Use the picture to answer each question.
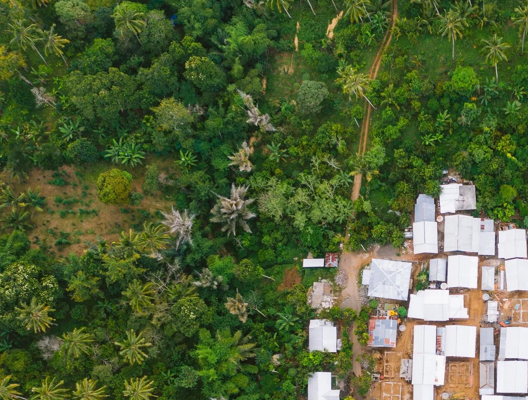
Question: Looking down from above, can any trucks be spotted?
No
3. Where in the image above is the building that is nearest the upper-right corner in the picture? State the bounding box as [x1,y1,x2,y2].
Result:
[440,184,476,215]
